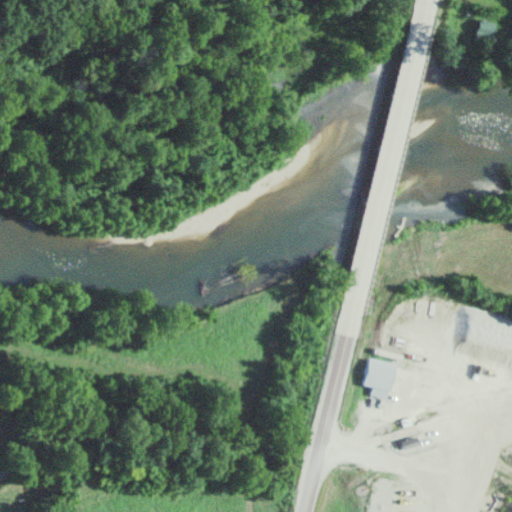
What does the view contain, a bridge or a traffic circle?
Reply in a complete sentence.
There is a bridge in the scene.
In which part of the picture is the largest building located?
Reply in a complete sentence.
The largest building sits in the bottom right section of the image.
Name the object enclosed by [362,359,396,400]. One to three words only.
building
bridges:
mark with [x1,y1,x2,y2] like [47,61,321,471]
[336,28,434,339]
